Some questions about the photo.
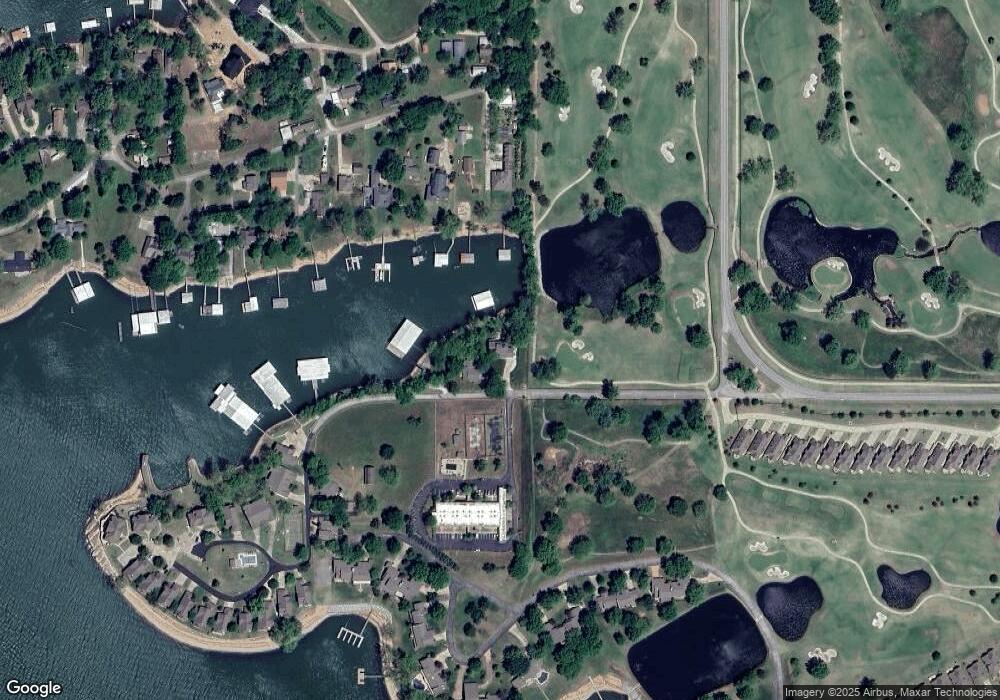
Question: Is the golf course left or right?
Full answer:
You can find the golf course on the right side of the picture.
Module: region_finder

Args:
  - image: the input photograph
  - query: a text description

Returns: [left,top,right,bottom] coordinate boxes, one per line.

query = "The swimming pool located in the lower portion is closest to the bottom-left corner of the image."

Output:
[238,553,258,566]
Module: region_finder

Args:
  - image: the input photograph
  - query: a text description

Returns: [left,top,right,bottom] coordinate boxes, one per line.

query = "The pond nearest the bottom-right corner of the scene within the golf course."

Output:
[877,565,931,609]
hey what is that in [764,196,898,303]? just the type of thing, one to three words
pond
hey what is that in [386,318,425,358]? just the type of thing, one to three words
pier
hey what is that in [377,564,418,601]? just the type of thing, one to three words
house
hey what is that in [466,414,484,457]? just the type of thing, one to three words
sports court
